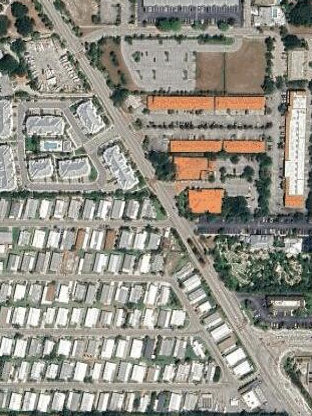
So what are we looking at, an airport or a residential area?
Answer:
residential area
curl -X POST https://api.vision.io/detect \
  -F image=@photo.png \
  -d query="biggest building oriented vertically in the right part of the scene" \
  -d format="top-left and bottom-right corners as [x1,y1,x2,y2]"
[290,93,305,195]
